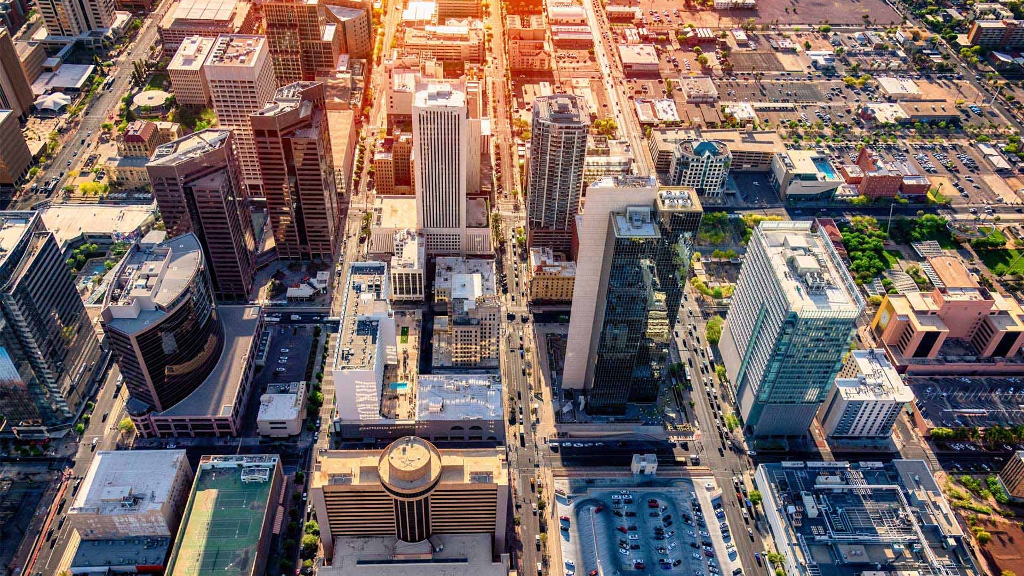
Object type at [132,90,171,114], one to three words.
building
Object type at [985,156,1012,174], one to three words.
house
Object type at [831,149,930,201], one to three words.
building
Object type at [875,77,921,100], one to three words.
house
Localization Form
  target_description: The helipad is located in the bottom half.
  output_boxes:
[389,439,429,471]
